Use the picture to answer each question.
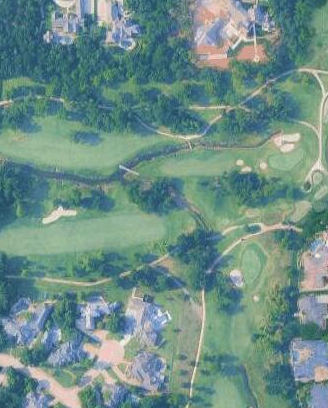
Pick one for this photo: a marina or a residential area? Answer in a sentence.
It's a residential area.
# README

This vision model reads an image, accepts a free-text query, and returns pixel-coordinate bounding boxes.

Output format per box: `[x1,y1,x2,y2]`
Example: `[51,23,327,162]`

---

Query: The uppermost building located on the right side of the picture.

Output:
[197,0,276,51]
